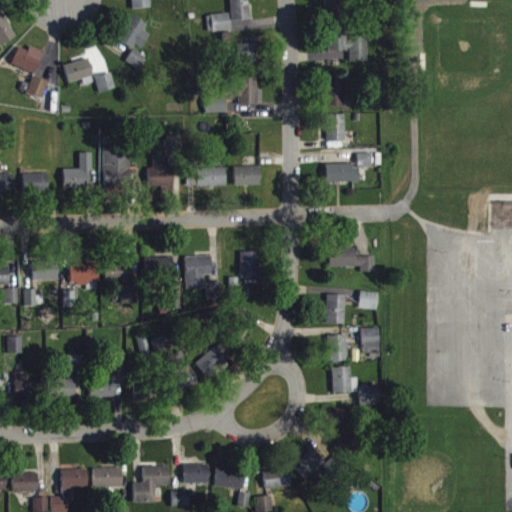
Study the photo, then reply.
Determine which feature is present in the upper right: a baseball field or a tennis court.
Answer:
baseball field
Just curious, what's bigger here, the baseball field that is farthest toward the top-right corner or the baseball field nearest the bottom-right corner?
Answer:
the baseball field that is farthest toward the top-right corner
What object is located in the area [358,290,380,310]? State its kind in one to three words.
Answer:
building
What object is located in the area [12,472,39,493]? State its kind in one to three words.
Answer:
house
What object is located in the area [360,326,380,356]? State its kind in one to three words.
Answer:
building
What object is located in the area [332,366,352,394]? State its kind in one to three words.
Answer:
house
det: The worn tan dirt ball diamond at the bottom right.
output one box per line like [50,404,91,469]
[405,450,458,510]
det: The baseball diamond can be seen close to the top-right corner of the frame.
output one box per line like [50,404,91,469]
[430,14,505,86]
